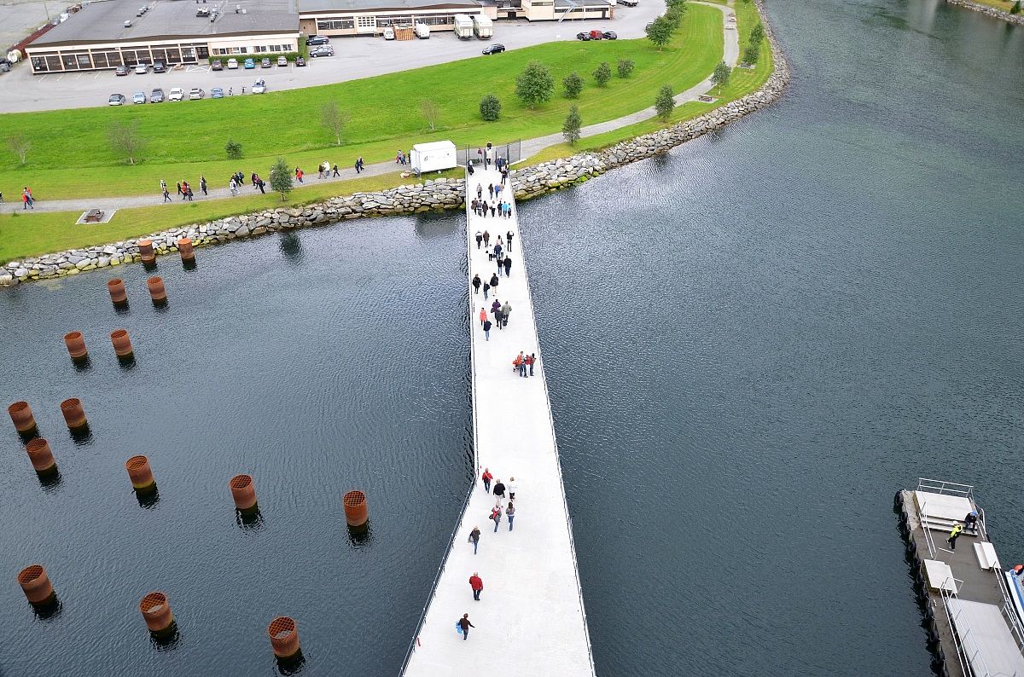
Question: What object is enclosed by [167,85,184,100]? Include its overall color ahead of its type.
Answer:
white car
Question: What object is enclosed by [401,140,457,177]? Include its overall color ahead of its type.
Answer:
white trailer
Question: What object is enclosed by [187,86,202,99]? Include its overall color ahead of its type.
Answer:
white vehicle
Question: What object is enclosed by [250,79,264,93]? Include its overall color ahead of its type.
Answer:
white car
